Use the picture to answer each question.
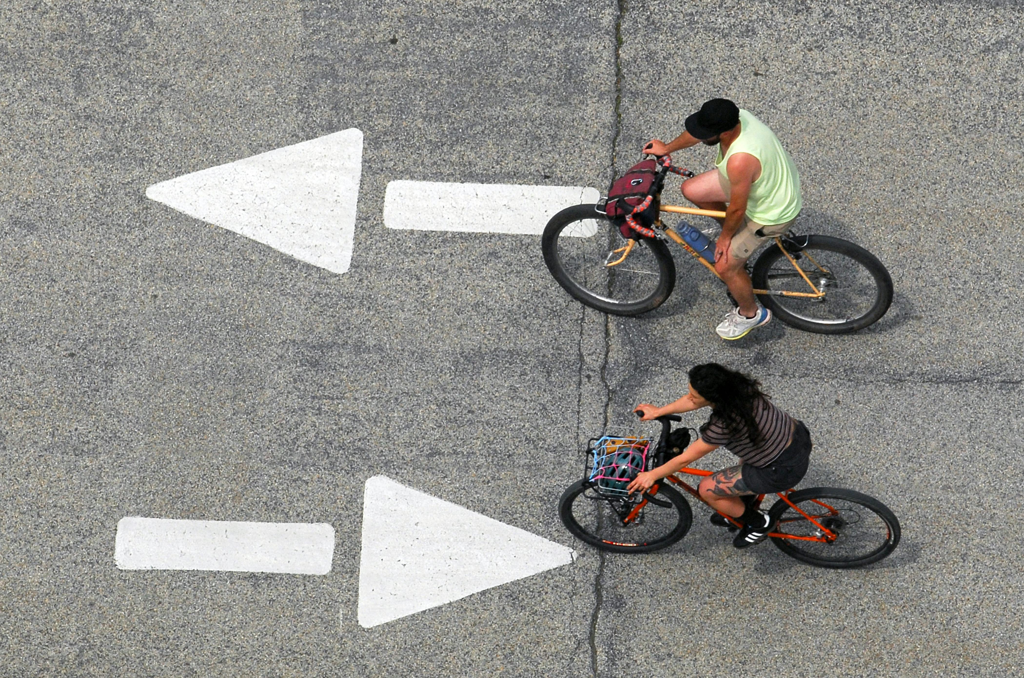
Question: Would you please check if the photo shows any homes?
No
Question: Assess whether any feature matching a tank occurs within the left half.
No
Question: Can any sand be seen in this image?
No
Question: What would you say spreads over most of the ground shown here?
paved ground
